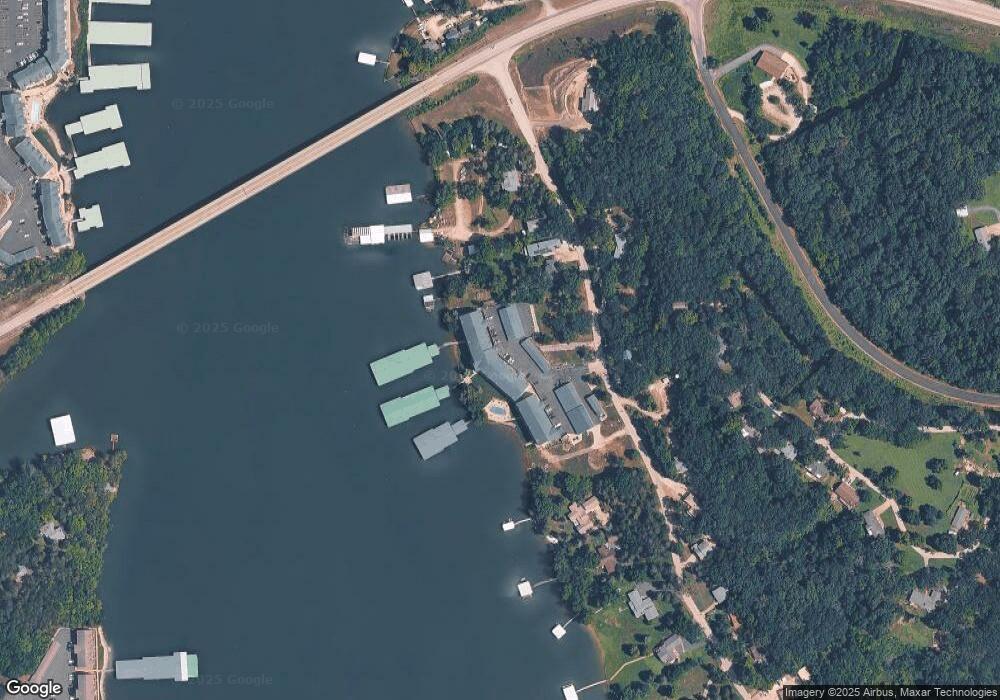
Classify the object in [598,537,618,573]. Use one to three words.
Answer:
house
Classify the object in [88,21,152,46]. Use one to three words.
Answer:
pier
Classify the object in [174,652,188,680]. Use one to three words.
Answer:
pier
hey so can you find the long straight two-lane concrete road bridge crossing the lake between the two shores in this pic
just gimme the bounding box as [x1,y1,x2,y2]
[77,88,419,292]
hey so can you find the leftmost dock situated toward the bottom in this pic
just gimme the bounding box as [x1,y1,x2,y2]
[51,414,76,455]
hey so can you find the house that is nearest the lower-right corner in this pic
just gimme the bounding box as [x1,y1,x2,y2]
[910,589,942,612]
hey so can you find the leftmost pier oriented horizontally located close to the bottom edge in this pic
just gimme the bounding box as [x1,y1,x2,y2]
[104,655,175,679]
